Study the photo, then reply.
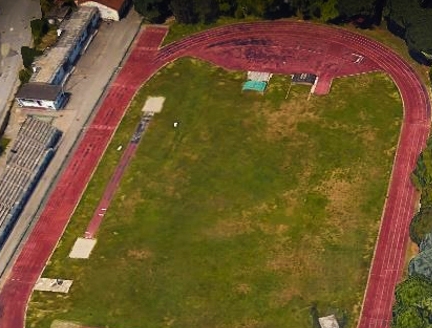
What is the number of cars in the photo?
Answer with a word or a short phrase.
none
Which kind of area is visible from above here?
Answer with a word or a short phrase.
sports ground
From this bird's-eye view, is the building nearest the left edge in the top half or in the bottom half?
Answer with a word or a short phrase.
top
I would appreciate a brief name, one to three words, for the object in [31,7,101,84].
building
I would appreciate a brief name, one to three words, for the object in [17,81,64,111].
building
